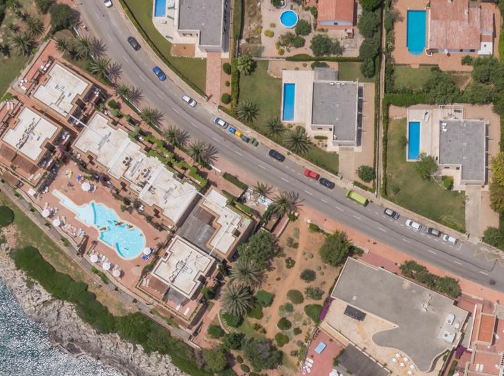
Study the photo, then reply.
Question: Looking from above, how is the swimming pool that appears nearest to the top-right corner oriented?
up and down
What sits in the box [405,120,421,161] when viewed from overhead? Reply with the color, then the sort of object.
blue swimming pool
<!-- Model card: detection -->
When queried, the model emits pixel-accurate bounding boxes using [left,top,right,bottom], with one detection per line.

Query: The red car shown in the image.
[304,168,319,180]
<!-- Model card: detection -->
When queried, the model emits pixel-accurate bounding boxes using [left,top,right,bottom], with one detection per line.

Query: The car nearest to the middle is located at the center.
[267,149,286,162]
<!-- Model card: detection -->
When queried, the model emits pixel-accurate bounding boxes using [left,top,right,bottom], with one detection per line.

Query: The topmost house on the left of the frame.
[178,0,225,50]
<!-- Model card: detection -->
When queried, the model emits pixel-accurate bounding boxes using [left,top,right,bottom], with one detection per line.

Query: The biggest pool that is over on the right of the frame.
[405,8,428,57]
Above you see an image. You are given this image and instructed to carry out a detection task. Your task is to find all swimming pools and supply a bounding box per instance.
[281,82,297,122]
[152,0,167,18]
[279,9,299,30]
[405,120,421,161]
[405,8,428,57]
[49,187,148,261]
